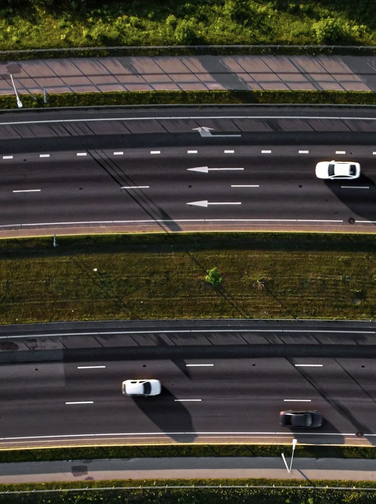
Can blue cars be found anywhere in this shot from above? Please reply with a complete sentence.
No, there isn't any blue car down there.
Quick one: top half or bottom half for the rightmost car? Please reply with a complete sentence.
The rightmost car is in the top half of the image.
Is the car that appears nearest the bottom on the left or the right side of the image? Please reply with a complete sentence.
The car that appears nearest the bottom sits on the right side.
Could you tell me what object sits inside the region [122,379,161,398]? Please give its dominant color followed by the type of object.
white car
